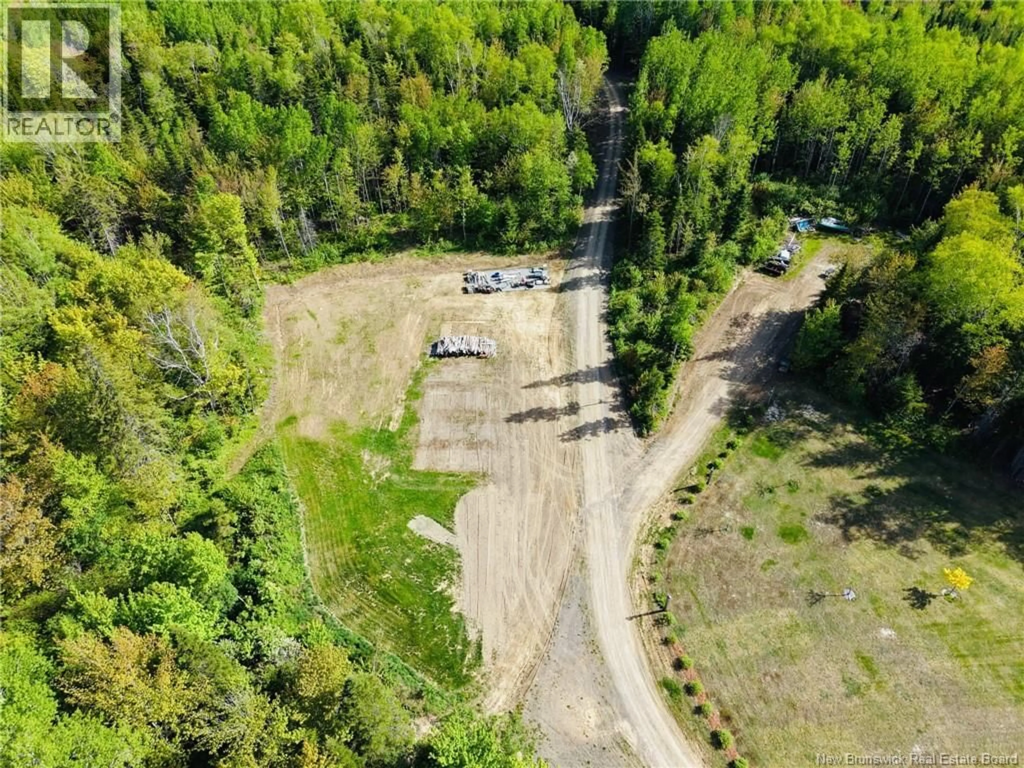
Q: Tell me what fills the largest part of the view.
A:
trees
